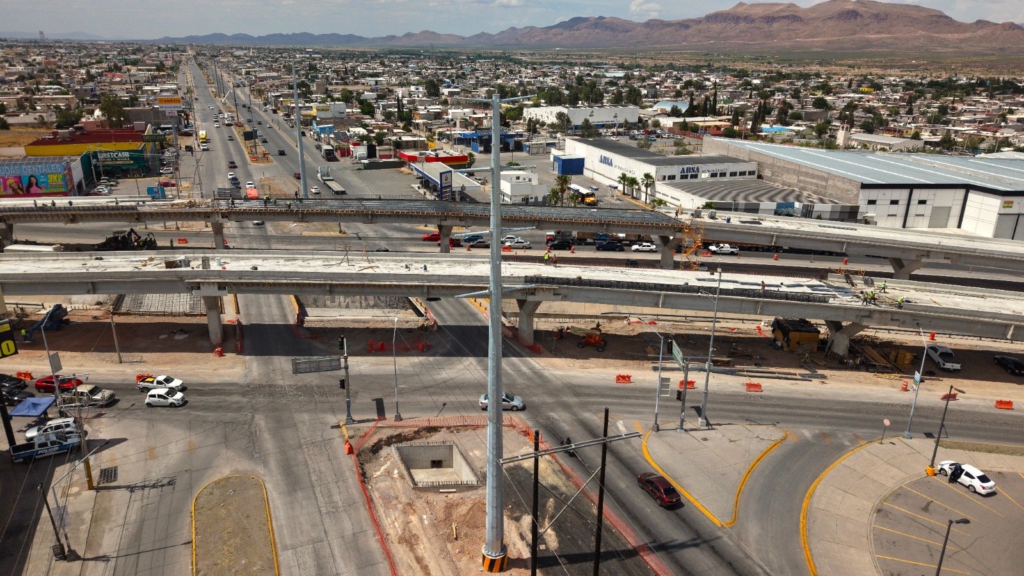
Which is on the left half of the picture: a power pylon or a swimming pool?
power pylon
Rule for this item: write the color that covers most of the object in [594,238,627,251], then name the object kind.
black vehicle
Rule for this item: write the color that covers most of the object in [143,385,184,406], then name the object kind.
white car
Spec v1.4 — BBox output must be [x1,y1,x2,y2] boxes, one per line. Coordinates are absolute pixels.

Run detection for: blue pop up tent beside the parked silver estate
[9,396,54,422]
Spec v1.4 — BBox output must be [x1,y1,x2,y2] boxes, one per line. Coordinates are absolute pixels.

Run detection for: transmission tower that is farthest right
[448,94,539,571]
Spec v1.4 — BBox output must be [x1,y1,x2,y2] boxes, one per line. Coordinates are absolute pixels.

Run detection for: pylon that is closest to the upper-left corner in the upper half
[292,61,309,193]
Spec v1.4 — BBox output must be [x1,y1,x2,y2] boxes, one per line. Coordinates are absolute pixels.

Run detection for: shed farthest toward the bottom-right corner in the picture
[771,316,819,352]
